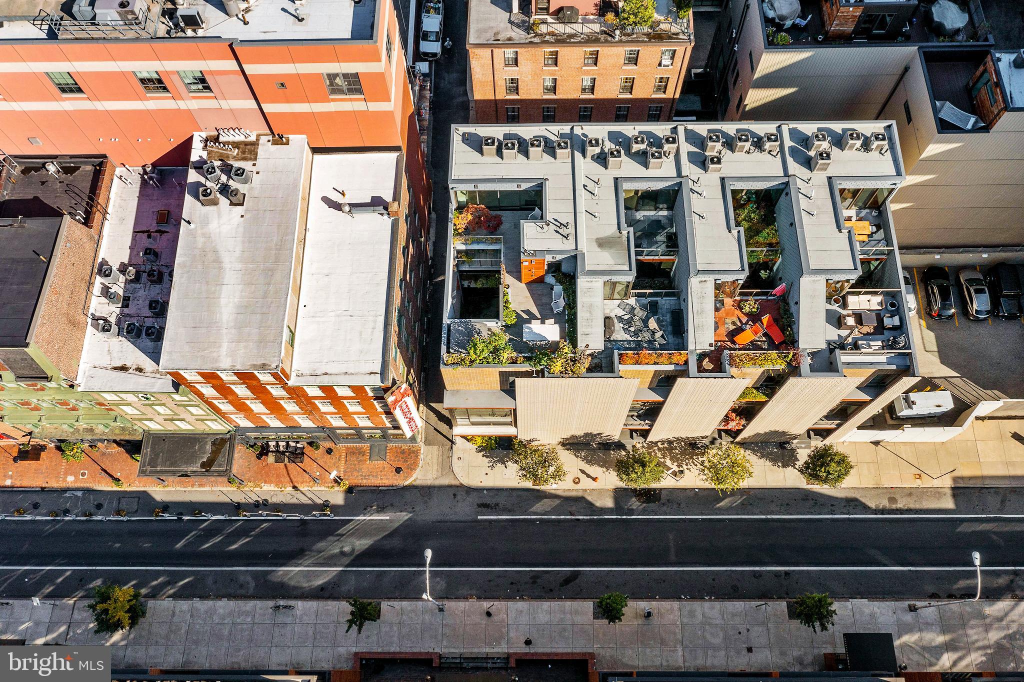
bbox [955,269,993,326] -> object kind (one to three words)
car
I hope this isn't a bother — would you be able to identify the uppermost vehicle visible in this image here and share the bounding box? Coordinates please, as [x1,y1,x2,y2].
[417,0,445,62]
